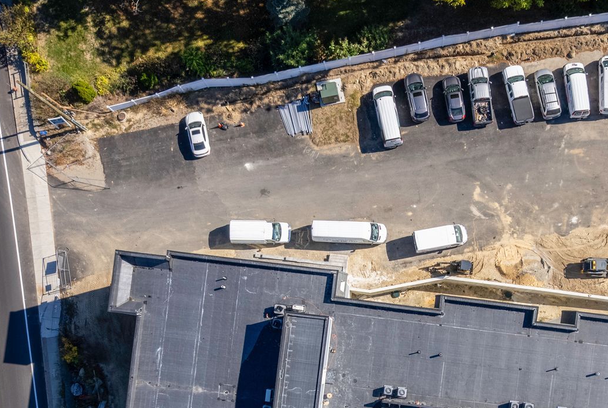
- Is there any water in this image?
No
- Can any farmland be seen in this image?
No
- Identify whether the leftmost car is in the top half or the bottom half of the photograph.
top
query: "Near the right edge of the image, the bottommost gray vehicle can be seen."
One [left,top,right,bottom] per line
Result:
[579,258,608,277]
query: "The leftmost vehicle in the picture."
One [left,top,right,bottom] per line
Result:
[182,110,213,161]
